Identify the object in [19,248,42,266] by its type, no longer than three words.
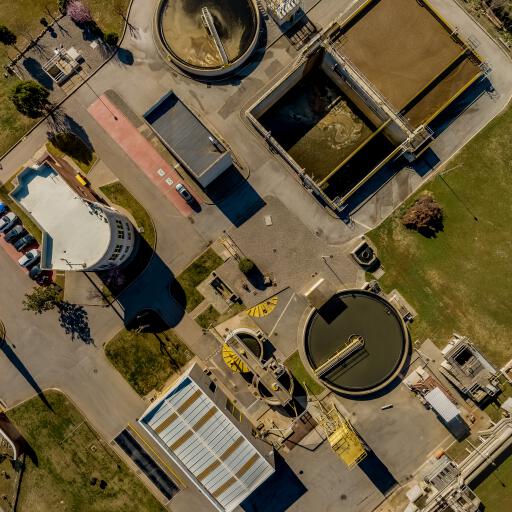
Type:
car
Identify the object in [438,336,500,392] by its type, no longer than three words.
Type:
house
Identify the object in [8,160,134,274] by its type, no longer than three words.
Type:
building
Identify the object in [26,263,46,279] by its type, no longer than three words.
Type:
car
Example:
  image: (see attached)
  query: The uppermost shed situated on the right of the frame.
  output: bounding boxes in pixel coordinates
[304,278,337,311]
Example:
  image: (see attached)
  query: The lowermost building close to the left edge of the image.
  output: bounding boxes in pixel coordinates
[0,416,30,462]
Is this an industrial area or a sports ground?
industrial area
